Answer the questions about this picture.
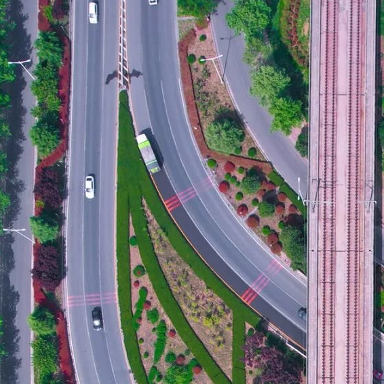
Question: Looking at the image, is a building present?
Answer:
No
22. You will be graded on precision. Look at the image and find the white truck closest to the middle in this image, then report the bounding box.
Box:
[134,131,162,177]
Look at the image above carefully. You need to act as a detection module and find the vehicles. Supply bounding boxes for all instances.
[149,0,159,8]
[88,2,99,25]
[373,368,384,384]
[92,308,103,330]
[84,175,95,198]
[292,306,307,324]
[134,131,162,177]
